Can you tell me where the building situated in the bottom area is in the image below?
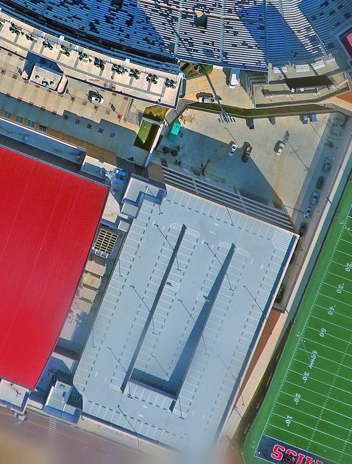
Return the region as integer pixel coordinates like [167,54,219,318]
[46,157,301,464]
